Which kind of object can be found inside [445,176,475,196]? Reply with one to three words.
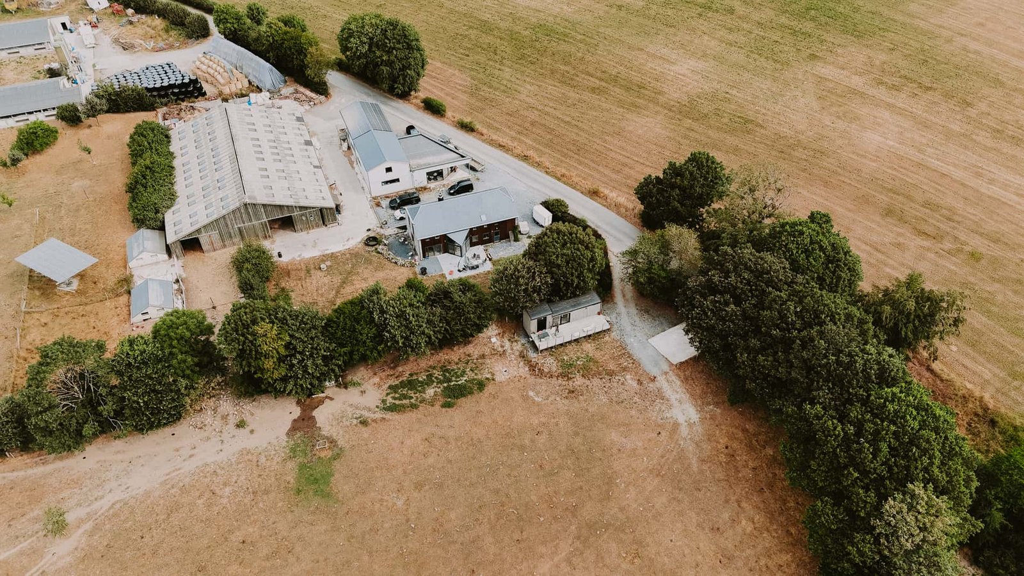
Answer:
vehicle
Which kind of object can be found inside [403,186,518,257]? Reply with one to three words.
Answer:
house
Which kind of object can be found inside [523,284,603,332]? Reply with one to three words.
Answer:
building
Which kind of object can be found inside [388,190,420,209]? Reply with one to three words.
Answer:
car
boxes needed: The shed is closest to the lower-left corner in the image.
[131,278,180,327]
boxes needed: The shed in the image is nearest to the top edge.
[0,13,76,70]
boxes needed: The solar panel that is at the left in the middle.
[15,238,98,293]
